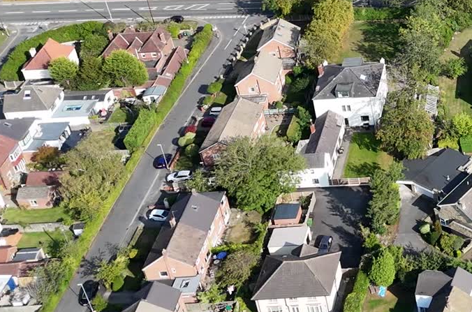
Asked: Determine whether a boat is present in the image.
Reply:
No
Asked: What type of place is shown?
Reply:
residential area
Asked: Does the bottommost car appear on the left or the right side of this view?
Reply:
left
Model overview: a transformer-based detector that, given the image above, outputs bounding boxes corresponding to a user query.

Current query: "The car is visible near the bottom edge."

[78,280,98,305]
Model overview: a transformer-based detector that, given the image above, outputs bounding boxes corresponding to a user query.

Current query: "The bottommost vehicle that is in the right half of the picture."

[318,230,333,248]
